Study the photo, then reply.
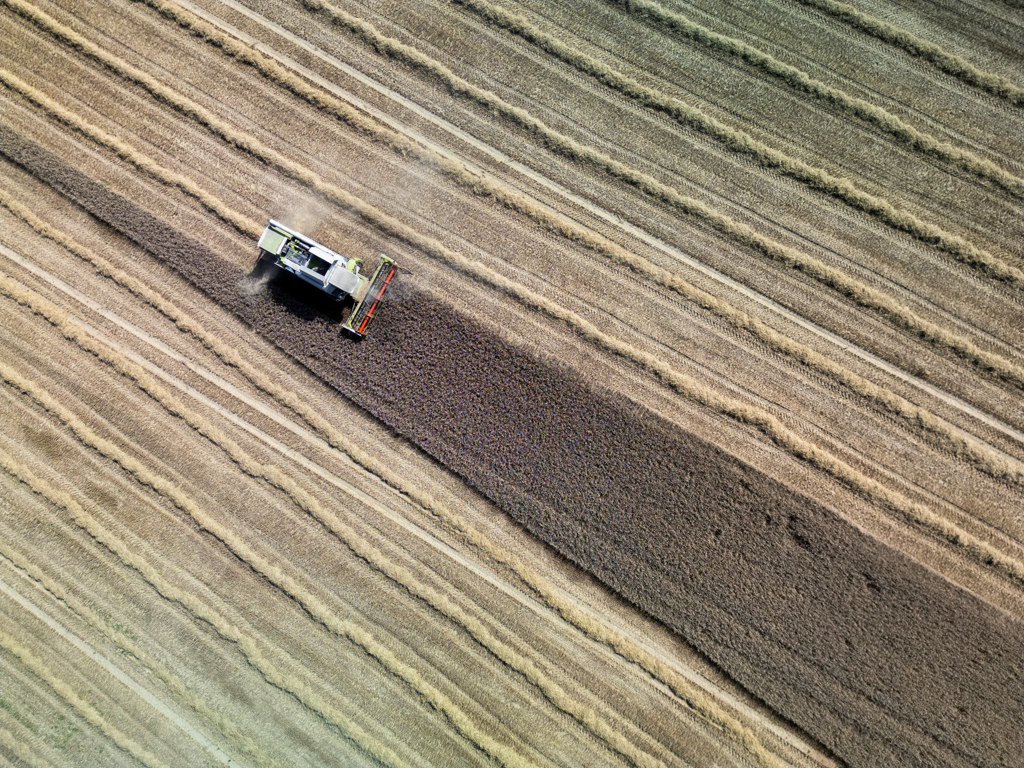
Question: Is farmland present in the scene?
Yes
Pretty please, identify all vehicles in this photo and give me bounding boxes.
[258,219,413,337]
